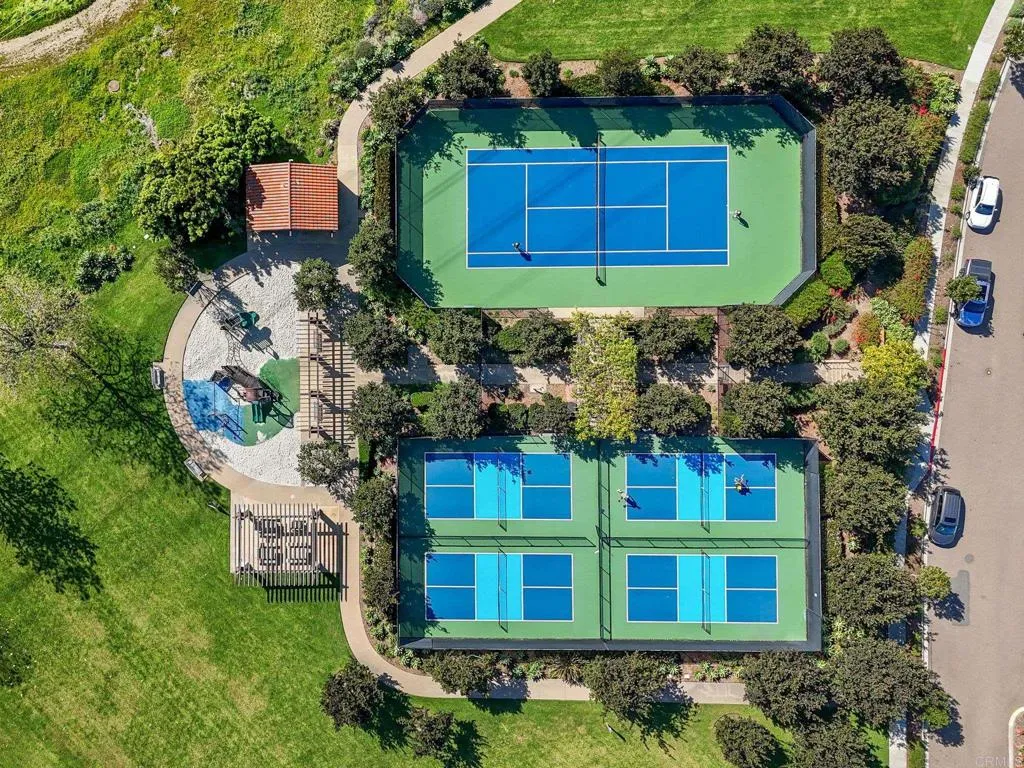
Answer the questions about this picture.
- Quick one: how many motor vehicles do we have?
3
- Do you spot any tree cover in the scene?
Yes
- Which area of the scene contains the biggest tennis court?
top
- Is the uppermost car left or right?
right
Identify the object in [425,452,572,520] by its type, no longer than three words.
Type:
sports court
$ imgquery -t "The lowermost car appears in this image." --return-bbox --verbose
[930,487,964,545]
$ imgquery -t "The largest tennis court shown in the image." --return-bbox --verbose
[398,104,802,307]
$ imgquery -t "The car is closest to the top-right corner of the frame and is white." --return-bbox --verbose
[968,174,1002,227]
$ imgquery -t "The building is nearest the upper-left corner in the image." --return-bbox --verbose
[246,161,338,234]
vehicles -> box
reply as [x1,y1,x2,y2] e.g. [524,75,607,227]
[930,487,964,545]
[968,174,1002,227]
[954,261,991,327]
